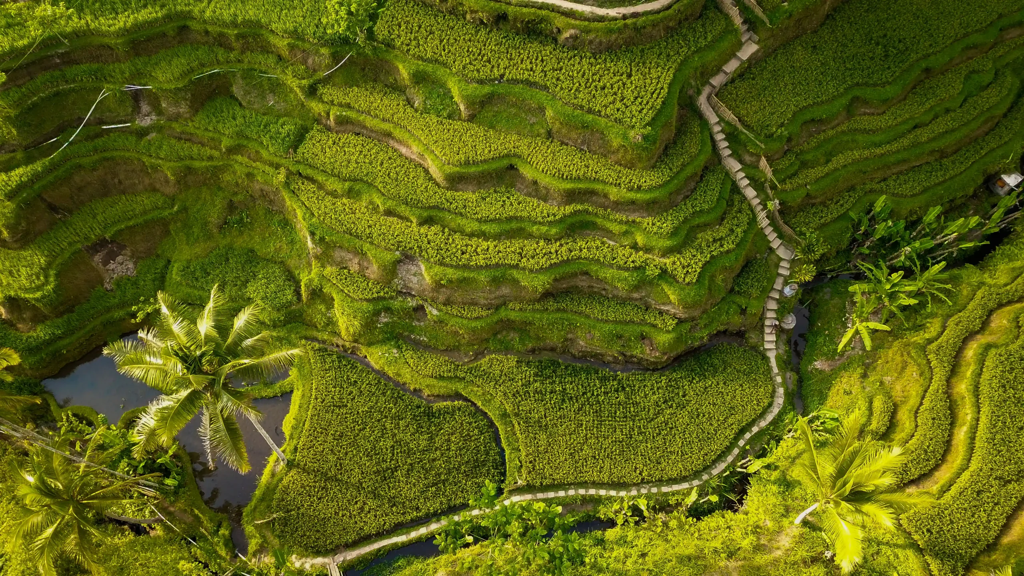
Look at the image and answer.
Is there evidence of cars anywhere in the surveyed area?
No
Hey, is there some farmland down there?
Yes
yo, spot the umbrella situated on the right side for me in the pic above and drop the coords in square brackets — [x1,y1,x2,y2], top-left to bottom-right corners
[785,314,803,332]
